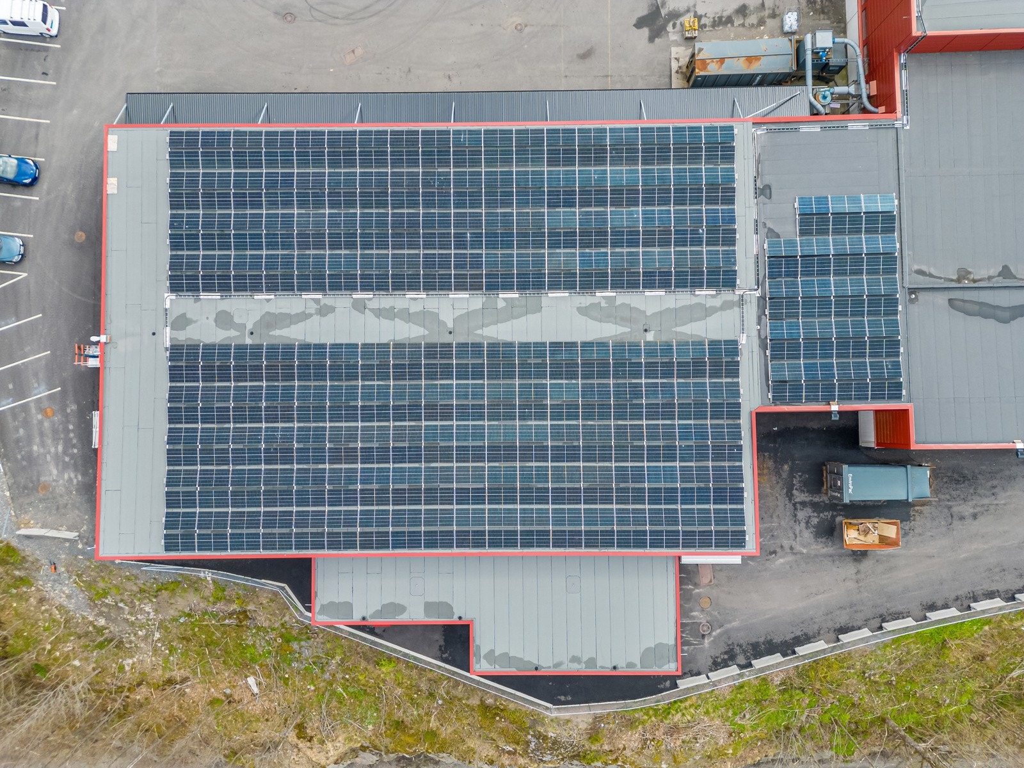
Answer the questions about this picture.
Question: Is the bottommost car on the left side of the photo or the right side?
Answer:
left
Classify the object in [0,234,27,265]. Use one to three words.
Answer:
car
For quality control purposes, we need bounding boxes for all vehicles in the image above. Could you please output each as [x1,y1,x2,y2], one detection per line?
[0,150,43,187]
[0,0,64,41]
[0,234,27,265]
